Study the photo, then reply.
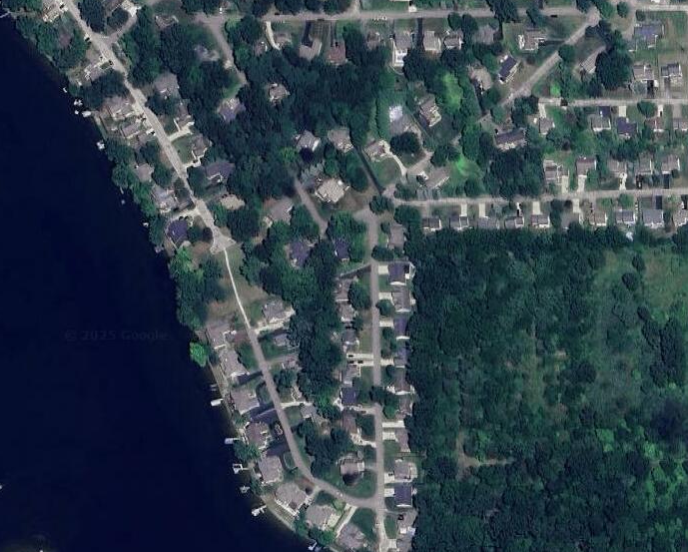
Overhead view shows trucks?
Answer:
No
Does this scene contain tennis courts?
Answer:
No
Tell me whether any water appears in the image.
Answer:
Yes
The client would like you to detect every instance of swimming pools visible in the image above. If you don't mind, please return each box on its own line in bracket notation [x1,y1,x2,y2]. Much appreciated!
[390,107,402,120]
[394,54,406,66]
